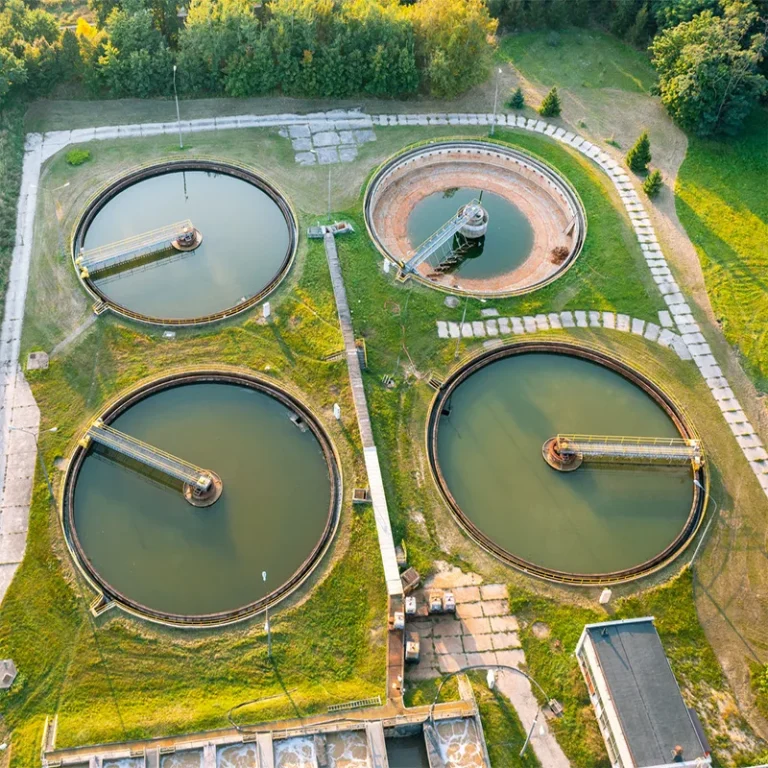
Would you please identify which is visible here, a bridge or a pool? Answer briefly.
bridge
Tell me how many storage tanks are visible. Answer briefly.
4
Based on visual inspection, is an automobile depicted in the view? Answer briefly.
No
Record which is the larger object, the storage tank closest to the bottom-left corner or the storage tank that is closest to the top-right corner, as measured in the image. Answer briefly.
the storage tank closest to the bottom-left corner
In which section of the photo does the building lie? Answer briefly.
bottom right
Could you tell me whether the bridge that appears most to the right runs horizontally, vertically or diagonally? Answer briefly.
horizontally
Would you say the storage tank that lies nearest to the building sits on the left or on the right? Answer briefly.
right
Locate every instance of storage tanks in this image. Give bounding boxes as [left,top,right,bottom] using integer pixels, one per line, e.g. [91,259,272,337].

[61,365,342,630]
[71,155,297,328]
[424,337,707,589]
[363,135,586,301]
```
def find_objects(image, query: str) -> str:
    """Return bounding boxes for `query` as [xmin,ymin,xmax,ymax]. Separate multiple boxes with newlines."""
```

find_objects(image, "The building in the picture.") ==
[573,616,715,768]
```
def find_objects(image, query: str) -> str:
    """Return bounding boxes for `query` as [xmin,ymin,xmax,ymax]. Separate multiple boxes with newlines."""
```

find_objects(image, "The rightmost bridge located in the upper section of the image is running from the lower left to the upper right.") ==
[397,198,484,278]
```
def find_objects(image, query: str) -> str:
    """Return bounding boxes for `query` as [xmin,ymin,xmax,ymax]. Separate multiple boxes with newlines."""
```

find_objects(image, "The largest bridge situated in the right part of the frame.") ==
[557,436,703,471]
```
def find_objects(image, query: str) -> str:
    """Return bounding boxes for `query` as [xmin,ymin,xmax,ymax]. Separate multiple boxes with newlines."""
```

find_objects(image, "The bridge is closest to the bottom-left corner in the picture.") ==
[81,418,211,493]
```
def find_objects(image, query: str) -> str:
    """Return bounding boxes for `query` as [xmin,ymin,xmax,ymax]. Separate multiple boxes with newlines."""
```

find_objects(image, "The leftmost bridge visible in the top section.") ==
[74,221,191,273]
